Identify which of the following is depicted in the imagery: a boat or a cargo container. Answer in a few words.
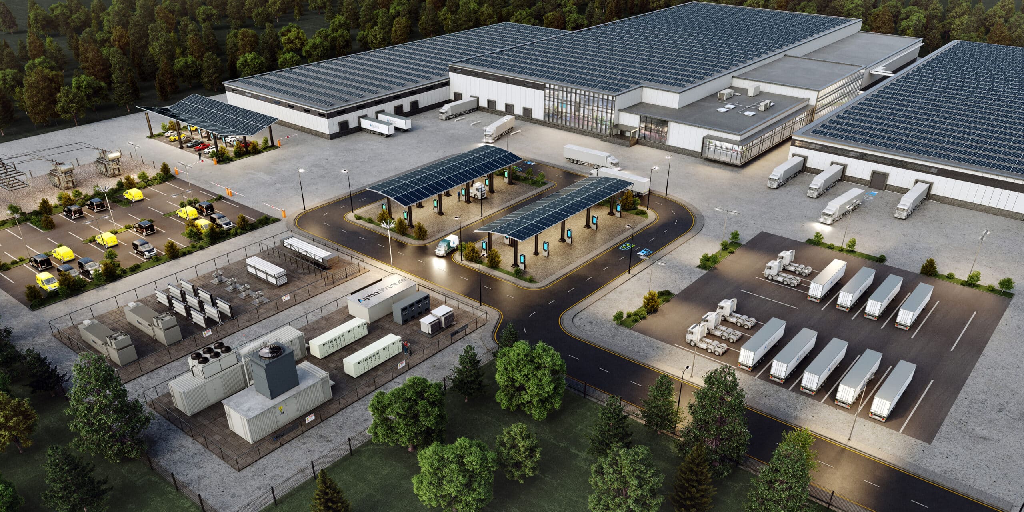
cargo container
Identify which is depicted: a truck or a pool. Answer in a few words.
truck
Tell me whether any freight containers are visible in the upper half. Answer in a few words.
No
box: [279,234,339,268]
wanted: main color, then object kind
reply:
white trailer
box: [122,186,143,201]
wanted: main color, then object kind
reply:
yellow vehicle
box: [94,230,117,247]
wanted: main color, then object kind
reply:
yellow vehicle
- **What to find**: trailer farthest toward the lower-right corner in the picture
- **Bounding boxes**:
[870,360,917,420]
